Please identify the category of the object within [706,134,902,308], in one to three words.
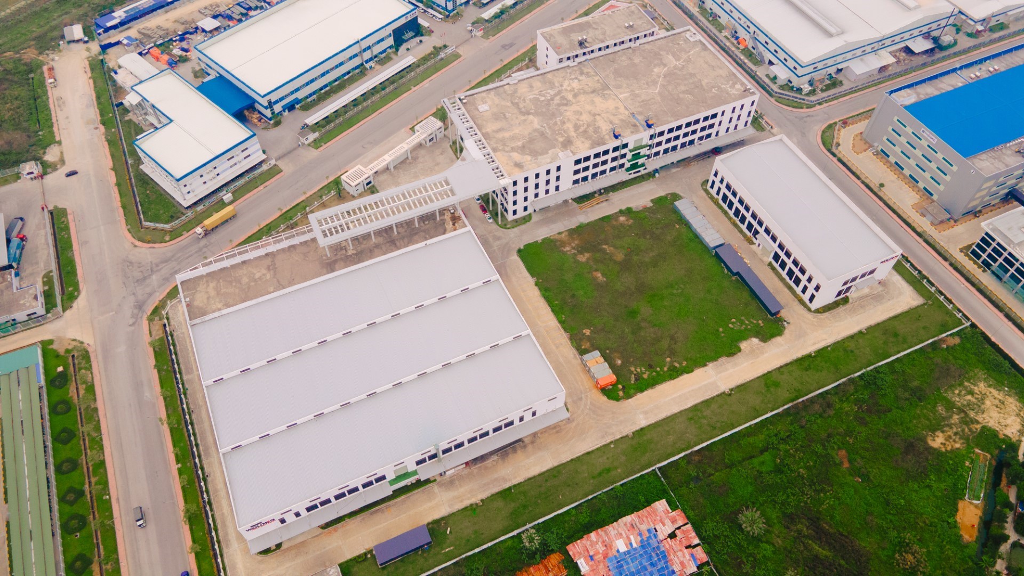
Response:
building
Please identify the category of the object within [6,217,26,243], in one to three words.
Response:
vehicle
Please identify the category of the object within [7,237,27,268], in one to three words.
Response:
vehicle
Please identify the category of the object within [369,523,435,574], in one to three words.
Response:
shed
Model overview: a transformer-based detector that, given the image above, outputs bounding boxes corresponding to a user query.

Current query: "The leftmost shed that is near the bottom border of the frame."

[6,362,56,576]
